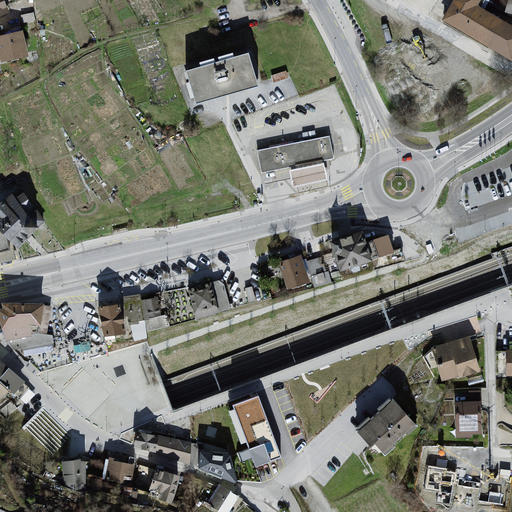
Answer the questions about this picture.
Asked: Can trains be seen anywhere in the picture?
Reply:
No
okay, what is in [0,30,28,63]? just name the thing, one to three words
house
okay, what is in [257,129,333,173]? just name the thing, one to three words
building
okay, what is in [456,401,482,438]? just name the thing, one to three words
house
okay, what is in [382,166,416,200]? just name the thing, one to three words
roundabout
